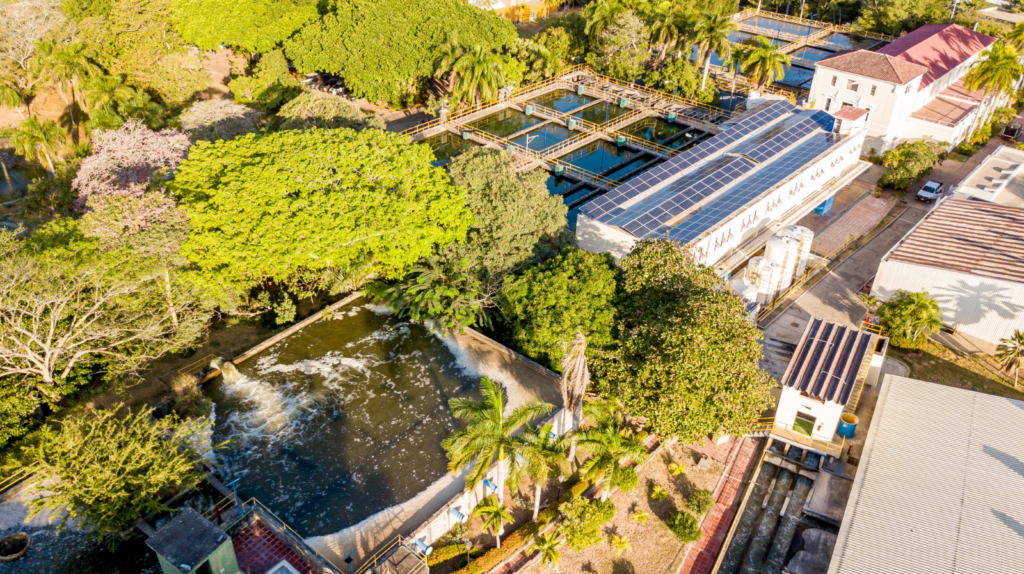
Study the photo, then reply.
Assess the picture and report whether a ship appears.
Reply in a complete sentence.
No, I can see no ship in this picture.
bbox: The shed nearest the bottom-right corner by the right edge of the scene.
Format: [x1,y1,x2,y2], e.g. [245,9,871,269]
[833,376,1024,574]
